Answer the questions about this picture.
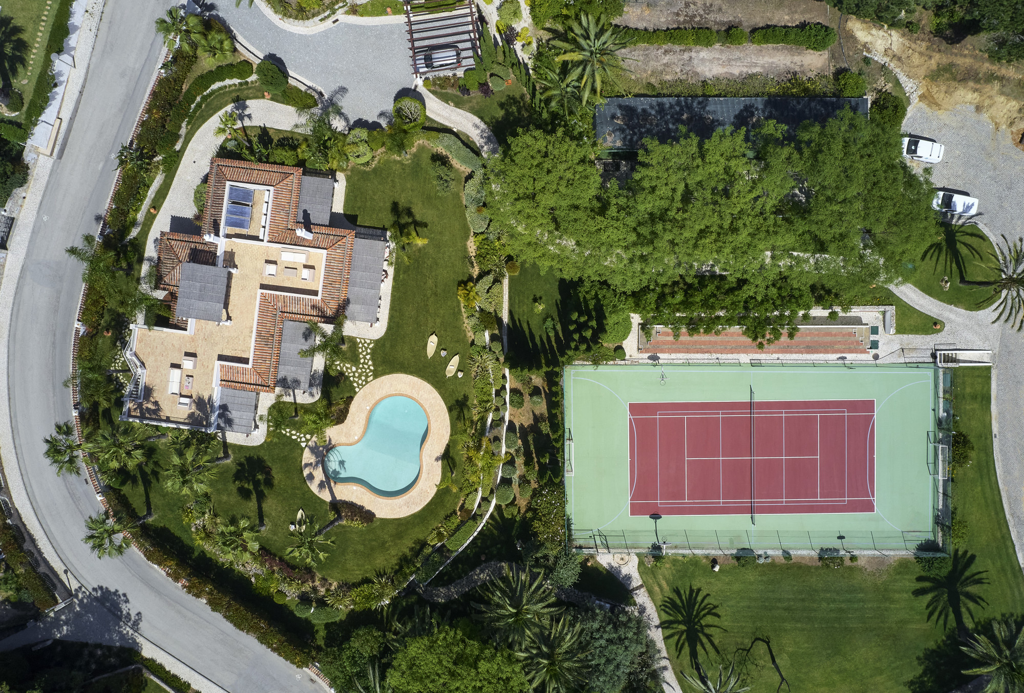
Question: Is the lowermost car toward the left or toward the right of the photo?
right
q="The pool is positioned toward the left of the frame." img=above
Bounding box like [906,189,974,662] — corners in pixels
[302,374,450,518]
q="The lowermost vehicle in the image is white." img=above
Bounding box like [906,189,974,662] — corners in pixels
[929,190,981,216]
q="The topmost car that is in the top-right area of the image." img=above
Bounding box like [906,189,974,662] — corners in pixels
[895,136,946,164]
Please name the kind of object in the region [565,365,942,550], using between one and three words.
sports court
